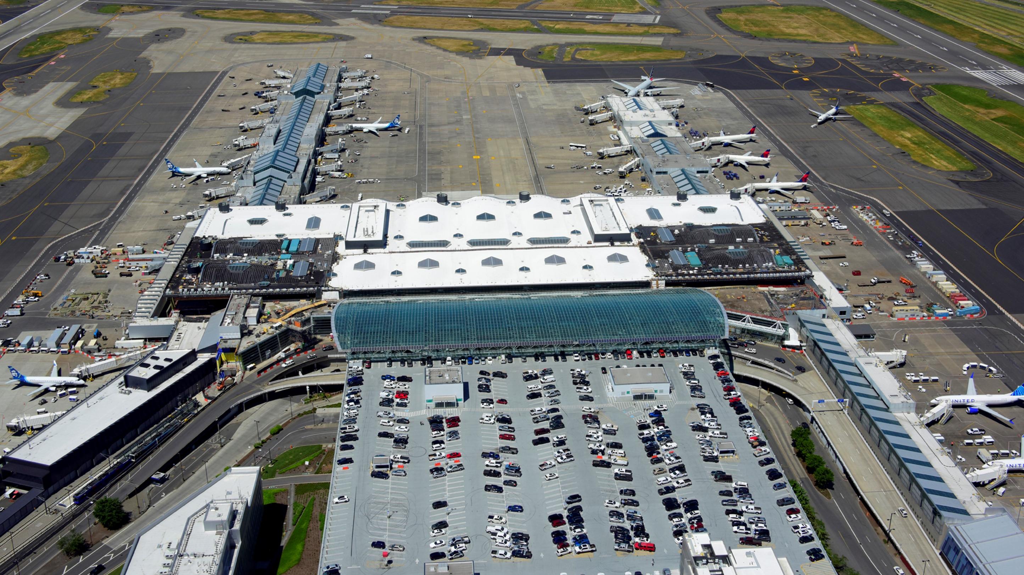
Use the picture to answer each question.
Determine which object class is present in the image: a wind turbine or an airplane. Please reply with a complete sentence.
There is an airplane in the scene.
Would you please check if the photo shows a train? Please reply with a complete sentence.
Yes, the picture does show a train.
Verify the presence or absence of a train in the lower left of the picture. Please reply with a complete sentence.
Yes, a train is visible in the lower left of the picture.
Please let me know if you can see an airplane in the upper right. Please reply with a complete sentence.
Yes, the scene does show an airplane in the upper right.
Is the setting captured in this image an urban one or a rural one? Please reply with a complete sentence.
The area is urban.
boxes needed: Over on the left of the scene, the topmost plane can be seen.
[342,113,402,132]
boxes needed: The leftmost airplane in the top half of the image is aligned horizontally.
[164,157,231,179]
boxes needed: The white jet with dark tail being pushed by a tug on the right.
[807,96,860,124]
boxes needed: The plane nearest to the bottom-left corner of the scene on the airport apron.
[3,361,85,397]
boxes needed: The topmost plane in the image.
[620,69,674,96]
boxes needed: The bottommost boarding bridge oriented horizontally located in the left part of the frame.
[5,409,70,435]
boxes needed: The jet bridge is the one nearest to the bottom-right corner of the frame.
[964,463,1012,488]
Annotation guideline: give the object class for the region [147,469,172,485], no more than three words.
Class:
vehicle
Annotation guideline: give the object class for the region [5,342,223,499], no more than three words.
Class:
building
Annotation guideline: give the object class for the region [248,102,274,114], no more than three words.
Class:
jet bridge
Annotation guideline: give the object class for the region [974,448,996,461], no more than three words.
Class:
vehicle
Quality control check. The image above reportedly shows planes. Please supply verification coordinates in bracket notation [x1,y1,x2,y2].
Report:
[703,125,760,145]
[982,458,1024,470]
[620,69,674,96]
[807,96,860,124]
[741,169,816,194]
[930,372,1024,422]
[3,361,85,397]
[712,147,774,166]
[342,113,402,132]
[164,157,231,179]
